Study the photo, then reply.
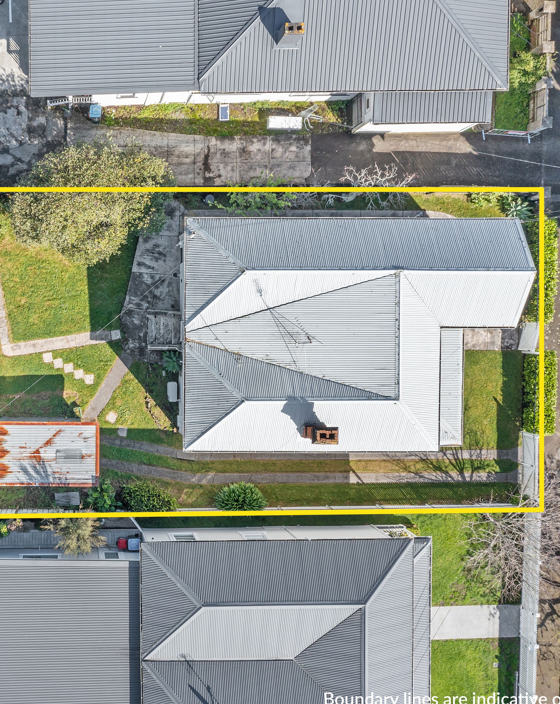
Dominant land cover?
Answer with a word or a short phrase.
buildings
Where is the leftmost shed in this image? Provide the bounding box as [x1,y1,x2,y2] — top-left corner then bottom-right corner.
[0,419,99,487]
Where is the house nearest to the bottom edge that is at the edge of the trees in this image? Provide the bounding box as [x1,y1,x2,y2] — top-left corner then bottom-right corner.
[0,525,438,704]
